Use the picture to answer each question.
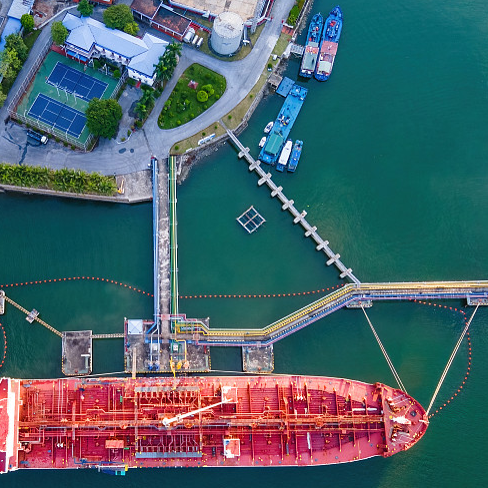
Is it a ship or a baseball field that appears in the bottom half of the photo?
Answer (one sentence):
What appears in the bottom half of the photo is a ship.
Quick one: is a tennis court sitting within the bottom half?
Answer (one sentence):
No, no tennis court can be made out within the bottom half.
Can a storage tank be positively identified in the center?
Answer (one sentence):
No, no storage tank can be made out in the center.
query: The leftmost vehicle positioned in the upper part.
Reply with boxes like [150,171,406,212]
[27,130,48,144]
